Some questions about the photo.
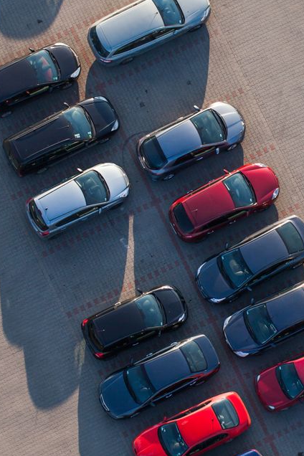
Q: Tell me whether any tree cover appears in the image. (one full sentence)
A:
No, there's no tree cover in this view.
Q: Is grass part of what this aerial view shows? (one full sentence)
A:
No, the scene doesn't show any grass.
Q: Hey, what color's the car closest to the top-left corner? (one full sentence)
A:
The color of the car closest to the top-left corner is black.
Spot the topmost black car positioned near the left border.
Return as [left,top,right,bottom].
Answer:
[0,43,82,116]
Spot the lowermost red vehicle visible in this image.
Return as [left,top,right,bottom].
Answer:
[133,389,251,456]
